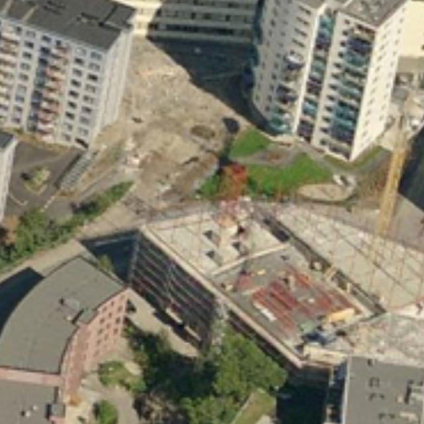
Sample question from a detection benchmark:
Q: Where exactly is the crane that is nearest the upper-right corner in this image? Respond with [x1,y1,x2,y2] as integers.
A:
[376,104,419,241]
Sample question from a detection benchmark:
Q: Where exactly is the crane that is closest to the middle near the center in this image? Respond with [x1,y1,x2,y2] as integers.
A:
[219,168,247,235]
